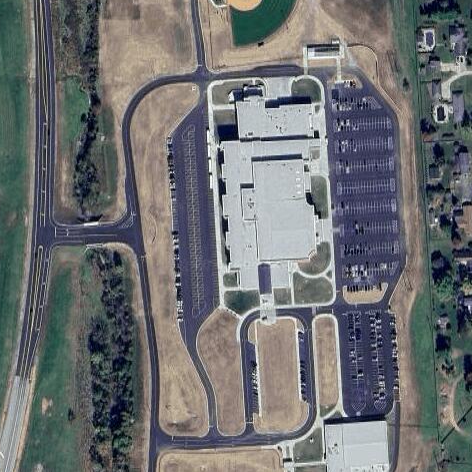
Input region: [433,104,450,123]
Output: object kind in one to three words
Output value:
swimming pool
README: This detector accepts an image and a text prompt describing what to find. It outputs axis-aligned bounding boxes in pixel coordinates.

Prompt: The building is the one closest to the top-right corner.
[450,27,466,53]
